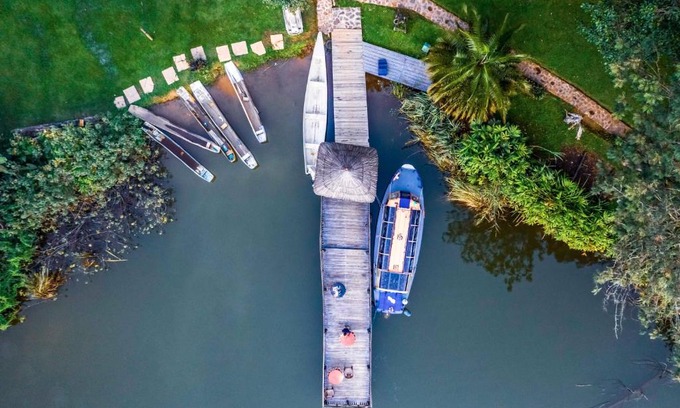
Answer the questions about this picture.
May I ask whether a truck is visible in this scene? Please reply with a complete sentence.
No, the photo shows no truck.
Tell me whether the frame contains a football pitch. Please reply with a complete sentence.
No, I can see no football pitch in this picture.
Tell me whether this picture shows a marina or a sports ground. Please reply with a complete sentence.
It's a marina.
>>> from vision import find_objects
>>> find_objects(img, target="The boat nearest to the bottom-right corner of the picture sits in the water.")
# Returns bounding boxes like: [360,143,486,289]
[374,163,424,318]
